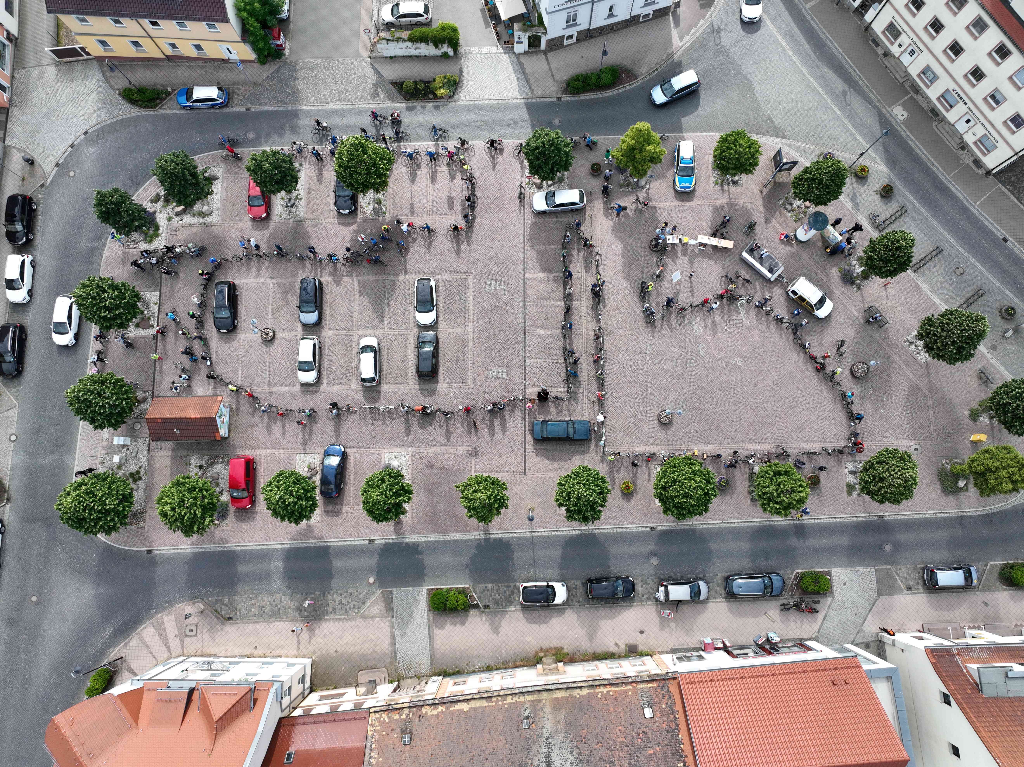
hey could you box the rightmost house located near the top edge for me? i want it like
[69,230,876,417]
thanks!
[866,0,1024,173]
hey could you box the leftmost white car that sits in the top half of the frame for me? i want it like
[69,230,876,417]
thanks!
[6,255,39,304]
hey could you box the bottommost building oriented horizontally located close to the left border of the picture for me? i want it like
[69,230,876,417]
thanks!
[39,647,313,767]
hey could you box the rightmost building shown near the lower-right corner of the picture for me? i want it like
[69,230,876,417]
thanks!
[880,610,1024,767]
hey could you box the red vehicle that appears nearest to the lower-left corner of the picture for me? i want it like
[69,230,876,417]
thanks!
[226,456,255,508]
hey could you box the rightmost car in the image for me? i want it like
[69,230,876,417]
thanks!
[922,566,978,592]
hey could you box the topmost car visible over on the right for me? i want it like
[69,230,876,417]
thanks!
[740,0,763,21]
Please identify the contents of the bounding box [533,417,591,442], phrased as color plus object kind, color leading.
blue car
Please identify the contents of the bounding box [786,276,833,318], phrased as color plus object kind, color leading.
white car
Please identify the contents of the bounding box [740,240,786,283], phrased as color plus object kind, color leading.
gray trailer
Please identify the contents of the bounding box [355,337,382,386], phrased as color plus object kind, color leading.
white car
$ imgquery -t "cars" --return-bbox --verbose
[0,324,31,376]
[210,282,238,332]
[6,255,39,304]
[331,160,357,214]
[50,295,81,345]
[740,0,763,21]
[655,578,709,613]
[724,571,785,600]
[296,278,323,325]
[413,277,437,326]
[533,417,591,442]
[381,1,431,26]
[355,337,382,386]
[922,566,978,592]
[786,276,833,318]
[673,140,699,192]
[1,195,37,246]
[243,169,270,219]
[294,337,321,384]
[649,71,704,109]
[320,444,346,497]
[532,188,586,215]
[415,332,439,379]
[226,456,255,508]
[520,581,567,606]
[177,86,230,113]
[586,575,635,601]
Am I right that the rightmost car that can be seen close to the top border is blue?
No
